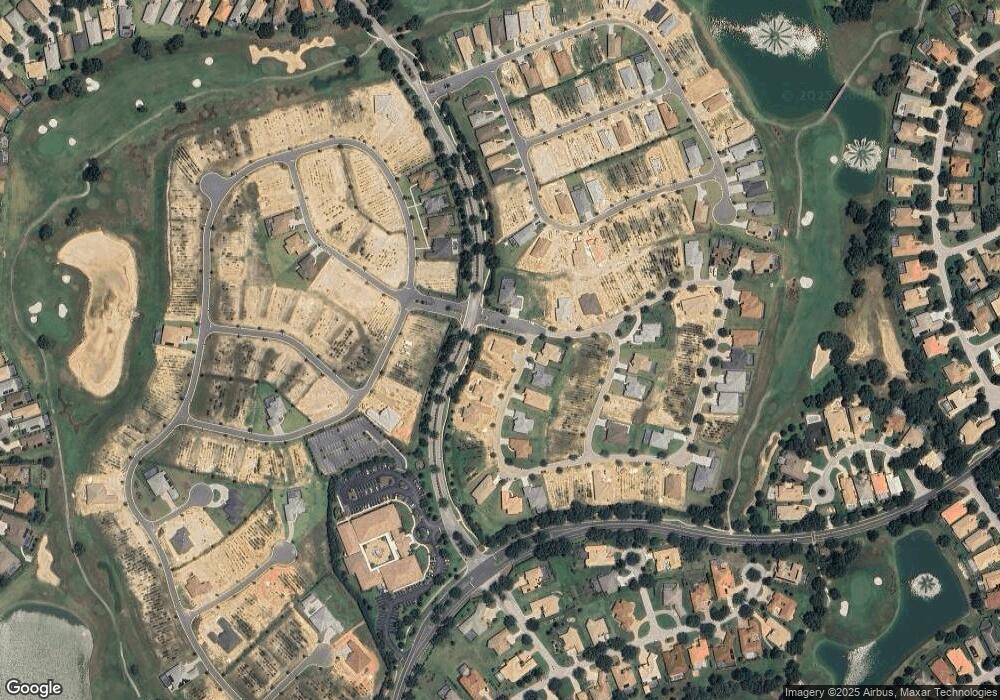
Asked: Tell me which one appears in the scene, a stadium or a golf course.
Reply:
golf course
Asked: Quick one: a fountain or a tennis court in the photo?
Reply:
fountain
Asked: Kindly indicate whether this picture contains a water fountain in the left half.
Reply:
No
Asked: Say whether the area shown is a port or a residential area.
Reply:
residential area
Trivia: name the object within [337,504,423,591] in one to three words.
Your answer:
building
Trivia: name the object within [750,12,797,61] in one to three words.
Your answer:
fountain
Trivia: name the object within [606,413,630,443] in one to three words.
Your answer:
house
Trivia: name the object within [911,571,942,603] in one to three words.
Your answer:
fountain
